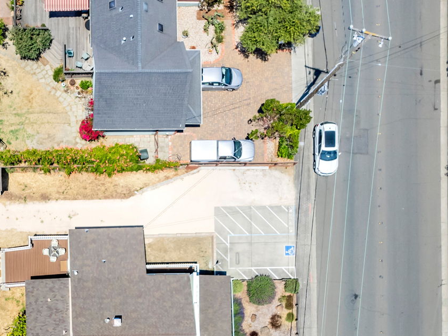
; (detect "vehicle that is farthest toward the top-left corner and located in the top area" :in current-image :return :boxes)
[202,63,244,91]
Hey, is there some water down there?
No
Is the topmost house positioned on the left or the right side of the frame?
left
